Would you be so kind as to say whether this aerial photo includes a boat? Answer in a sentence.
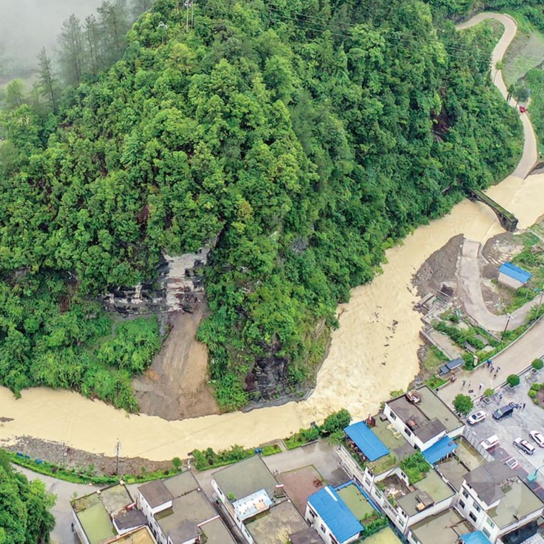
No, I can see no boat in this picture.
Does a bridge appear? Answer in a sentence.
Yes, a bridge can be made out from above.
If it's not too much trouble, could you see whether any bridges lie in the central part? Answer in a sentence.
No, I can find no bridge in the central part.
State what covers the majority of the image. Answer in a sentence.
The largest share of the image is taken up by trees.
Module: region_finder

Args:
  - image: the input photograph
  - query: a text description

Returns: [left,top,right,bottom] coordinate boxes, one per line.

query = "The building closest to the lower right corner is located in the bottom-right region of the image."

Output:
[456,462,544,544]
